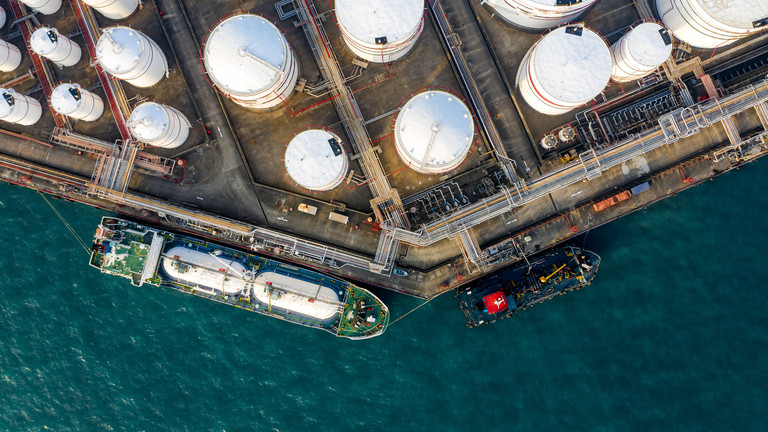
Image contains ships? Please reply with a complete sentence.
Yes, I can see a ship in this picture.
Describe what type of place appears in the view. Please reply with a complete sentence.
This image shows an industrial area.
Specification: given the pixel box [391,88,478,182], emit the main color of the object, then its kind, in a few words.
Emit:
white storage tank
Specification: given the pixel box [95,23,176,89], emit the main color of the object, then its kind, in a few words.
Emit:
white storage tank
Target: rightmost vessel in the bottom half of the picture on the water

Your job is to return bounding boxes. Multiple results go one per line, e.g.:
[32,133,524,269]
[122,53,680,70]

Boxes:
[456,244,602,329]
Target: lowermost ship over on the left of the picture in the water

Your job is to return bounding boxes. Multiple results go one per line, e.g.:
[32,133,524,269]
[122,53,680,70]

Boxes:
[89,216,389,342]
